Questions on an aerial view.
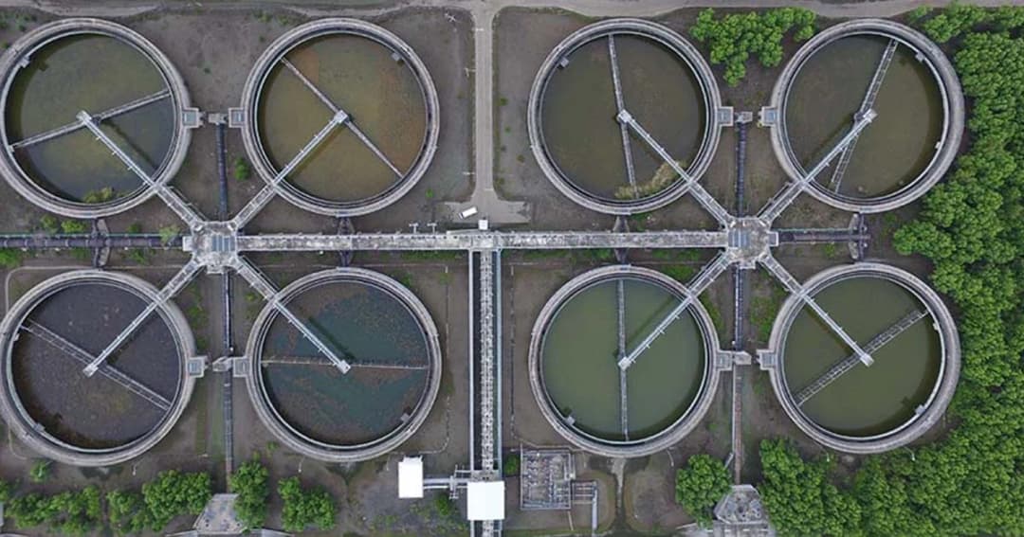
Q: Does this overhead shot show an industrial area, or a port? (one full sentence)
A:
This image shows an industrial area.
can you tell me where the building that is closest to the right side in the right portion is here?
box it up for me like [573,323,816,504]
[674,481,772,537]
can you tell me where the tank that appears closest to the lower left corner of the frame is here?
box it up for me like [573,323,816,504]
[0,270,208,464]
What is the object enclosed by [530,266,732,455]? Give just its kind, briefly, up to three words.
storage tank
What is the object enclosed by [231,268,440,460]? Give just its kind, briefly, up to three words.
storage tank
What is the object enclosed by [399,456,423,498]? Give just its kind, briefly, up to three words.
shed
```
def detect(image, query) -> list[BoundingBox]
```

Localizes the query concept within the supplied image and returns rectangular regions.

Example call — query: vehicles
[459,206,479,219]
